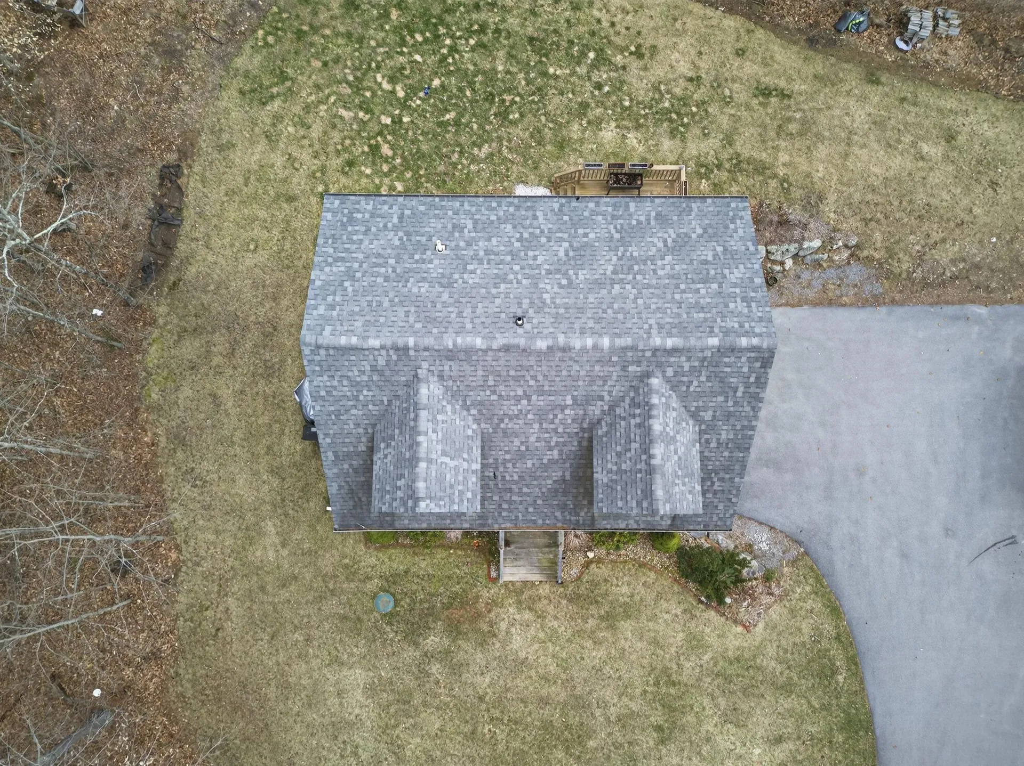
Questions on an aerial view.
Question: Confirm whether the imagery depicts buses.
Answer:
No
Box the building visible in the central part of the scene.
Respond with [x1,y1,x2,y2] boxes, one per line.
[299,191,778,537]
